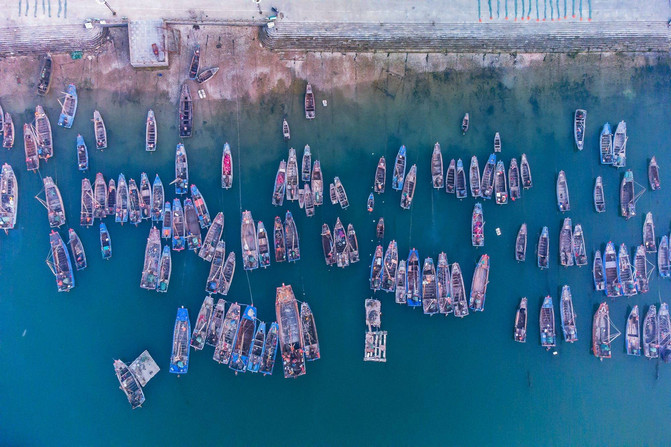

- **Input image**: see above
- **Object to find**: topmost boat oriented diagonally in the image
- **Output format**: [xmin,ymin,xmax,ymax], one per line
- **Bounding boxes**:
[198,67,220,85]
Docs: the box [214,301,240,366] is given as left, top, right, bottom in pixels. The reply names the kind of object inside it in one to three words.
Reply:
boat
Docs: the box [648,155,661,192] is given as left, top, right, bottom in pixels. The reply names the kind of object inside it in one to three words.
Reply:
boat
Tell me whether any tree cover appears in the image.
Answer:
No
